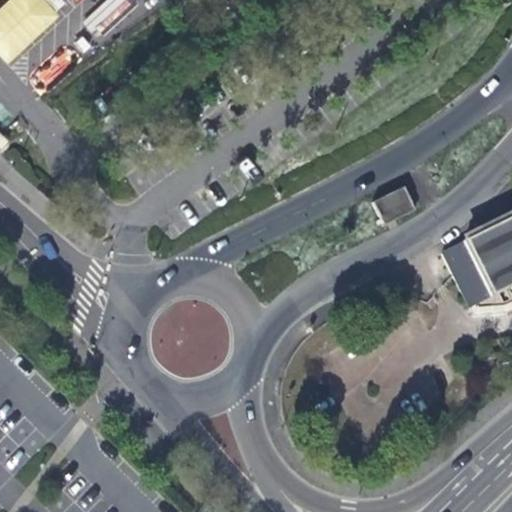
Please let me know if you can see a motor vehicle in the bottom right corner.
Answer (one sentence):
Yes, a motor vehicle shows up in the bottom right corner.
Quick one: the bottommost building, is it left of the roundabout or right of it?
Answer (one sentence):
Looking at the photo, the bottommost building lies to the right of the roundabout.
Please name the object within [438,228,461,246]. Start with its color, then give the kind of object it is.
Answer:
white car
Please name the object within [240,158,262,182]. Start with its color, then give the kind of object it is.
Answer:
white vehicle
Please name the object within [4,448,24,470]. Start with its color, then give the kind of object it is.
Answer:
white car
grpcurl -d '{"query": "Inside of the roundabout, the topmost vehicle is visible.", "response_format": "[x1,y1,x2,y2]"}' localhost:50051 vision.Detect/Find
[156,267,176,288]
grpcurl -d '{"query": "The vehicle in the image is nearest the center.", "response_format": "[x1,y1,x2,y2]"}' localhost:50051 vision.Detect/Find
[206,238,228,256]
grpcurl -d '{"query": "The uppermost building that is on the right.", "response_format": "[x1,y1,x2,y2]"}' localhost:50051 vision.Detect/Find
[372,186,416,228]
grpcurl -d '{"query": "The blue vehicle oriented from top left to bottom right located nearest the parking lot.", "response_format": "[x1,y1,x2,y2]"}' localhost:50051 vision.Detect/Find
[38,236,58,260]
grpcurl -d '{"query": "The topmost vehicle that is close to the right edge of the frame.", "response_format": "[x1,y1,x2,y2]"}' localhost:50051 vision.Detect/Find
[478,79,500,98]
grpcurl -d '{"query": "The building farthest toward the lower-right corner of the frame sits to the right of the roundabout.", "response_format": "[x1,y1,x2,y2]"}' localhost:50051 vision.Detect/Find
[442,208,512,307]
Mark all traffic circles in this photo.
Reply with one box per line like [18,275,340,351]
[96,251,264,500]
